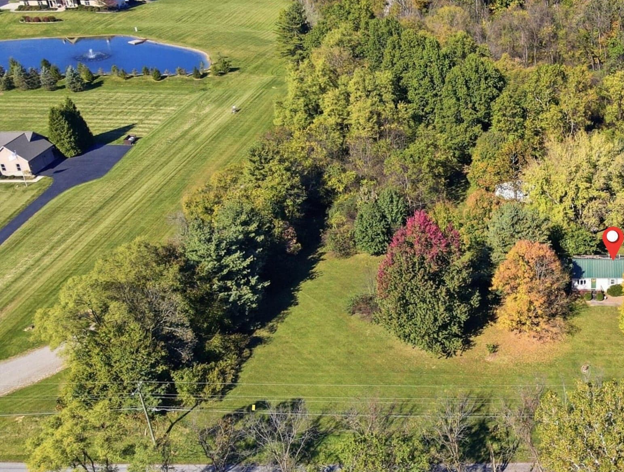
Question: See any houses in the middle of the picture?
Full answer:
No, there is no house in the middle of the picture.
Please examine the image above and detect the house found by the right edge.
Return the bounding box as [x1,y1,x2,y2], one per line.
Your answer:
[570,255,624,293]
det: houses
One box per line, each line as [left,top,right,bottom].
[16,0,119,9]
[570,255,624,293]
[0,121,65,176]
